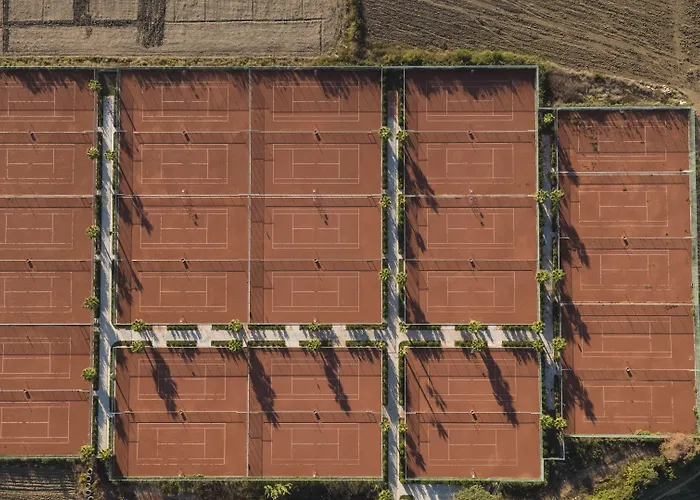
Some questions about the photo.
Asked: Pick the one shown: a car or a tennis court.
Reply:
tennis court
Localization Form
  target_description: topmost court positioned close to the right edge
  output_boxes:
[558,111,690,172]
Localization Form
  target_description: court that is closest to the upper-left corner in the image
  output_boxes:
[0,71,96,131]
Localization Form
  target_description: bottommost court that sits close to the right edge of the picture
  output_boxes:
[563,370,697,433]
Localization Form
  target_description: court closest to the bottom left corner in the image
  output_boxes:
[0,391,93,455]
